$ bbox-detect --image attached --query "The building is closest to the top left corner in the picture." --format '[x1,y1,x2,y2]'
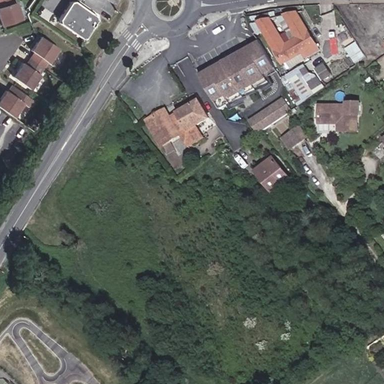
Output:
[0,0,26,28]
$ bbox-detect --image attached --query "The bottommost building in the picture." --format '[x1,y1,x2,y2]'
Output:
[252,154,288,192]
